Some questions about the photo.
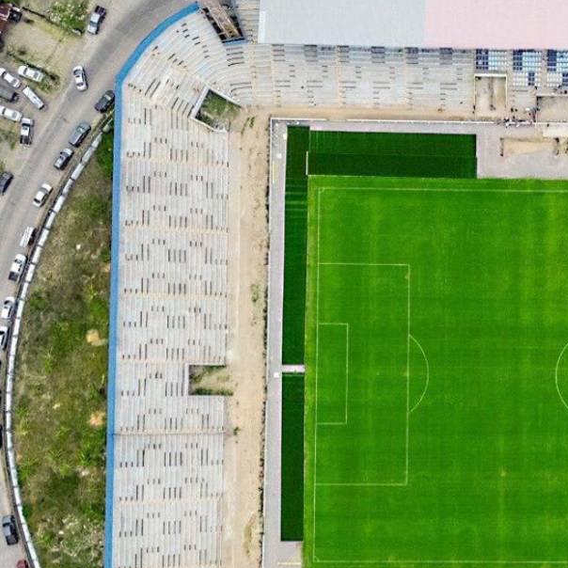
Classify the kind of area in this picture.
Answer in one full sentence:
It's a sports ground.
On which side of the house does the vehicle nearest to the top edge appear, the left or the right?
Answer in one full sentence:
In the image, the vehicle nearest to the top edge sits on the right side of the house.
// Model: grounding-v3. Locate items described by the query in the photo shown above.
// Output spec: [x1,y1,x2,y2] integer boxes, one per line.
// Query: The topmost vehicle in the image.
[87,3,107,34]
